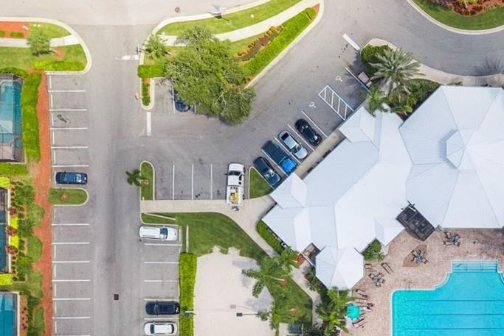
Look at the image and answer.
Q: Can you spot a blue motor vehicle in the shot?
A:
Yes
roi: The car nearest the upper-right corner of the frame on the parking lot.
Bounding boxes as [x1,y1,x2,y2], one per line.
[295,116,323,147]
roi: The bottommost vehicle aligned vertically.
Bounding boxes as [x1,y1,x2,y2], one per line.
[226,165,246,206]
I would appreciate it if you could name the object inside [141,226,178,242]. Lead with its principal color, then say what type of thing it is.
white vehicle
